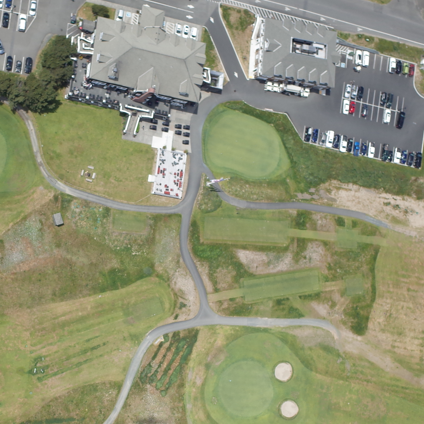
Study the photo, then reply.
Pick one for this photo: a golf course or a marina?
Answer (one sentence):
The area seen from above is a golf course.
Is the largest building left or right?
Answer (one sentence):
You can find the largest building on the left side of the picture.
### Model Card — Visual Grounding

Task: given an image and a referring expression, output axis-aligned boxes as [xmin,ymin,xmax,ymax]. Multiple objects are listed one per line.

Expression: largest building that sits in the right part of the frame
[246,15,347,90]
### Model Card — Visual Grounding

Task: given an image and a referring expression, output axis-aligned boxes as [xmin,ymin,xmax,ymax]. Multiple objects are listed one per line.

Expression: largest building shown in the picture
[67,5,210,135]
